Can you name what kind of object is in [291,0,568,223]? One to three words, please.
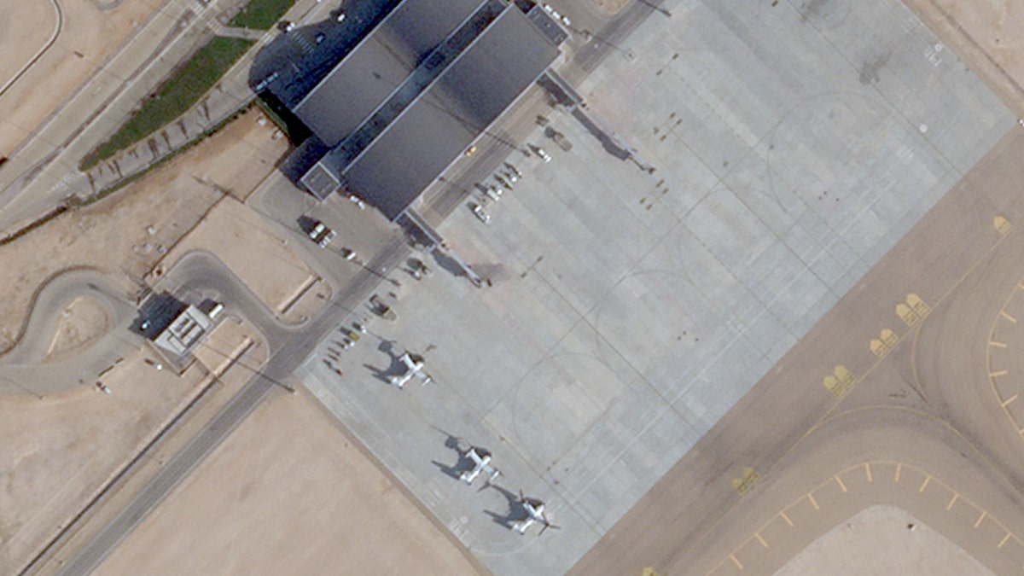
building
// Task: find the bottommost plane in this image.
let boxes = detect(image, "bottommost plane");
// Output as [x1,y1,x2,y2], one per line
[510,487,561,538]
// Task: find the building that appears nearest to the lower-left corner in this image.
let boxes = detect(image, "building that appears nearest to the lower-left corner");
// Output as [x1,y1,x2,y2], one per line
[153,305,213,355]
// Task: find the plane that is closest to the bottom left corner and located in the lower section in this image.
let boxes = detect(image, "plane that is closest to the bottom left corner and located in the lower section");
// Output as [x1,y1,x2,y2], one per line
[389,347,438,394]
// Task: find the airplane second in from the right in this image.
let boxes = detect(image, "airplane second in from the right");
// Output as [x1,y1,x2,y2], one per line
[457,441,506,490]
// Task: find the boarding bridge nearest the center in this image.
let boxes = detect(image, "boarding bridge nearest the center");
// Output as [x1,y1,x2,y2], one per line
[406,208,486,289]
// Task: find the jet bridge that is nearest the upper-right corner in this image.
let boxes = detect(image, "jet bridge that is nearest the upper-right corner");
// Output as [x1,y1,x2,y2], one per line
[546,68,646,166]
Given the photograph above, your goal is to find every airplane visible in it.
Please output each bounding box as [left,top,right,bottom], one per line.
[457,441,506,490]
[510,487,561,538]
[389,347,438,394]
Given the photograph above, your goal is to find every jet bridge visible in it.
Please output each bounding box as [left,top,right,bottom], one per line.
[546,68,646,166]
[406,208,486,289]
